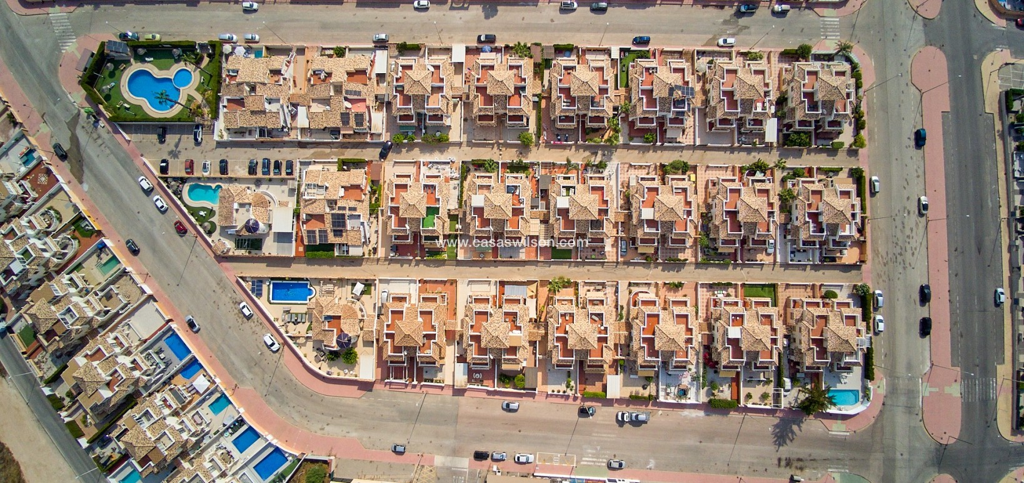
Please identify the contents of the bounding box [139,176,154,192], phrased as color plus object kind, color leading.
white car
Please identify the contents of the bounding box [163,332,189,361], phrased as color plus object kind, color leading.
blue swimming pool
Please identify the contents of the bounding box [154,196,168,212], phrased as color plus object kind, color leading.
white car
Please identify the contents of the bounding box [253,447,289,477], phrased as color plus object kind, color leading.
blue swimming pool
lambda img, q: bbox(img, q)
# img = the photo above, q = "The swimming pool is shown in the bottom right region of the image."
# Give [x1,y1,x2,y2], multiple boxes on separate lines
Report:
[828,389,860,406]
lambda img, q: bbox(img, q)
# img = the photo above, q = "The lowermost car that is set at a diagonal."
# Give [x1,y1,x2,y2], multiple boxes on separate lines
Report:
[95,433,113,449]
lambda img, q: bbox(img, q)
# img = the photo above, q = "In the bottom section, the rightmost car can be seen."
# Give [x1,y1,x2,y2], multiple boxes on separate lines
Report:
[992,289,1006,305]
